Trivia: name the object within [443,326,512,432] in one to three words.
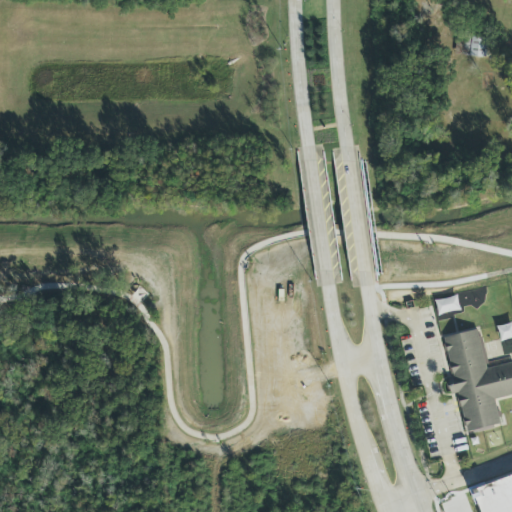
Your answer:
building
